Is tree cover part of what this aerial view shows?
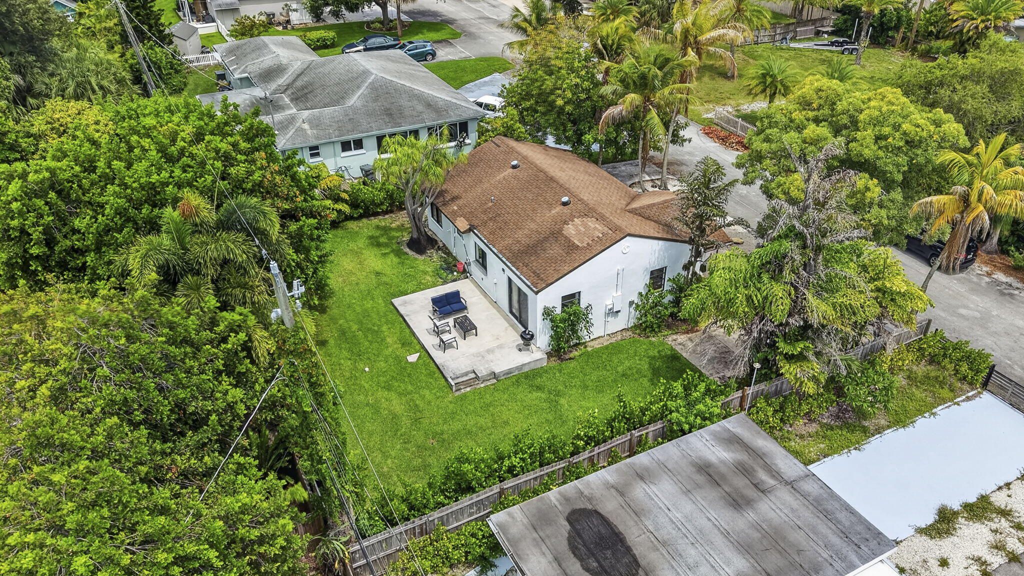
Yes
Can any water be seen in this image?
No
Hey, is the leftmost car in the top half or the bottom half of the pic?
top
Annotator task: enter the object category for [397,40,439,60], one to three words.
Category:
car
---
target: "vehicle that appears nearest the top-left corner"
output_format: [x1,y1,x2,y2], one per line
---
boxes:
[343,32,396,53]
